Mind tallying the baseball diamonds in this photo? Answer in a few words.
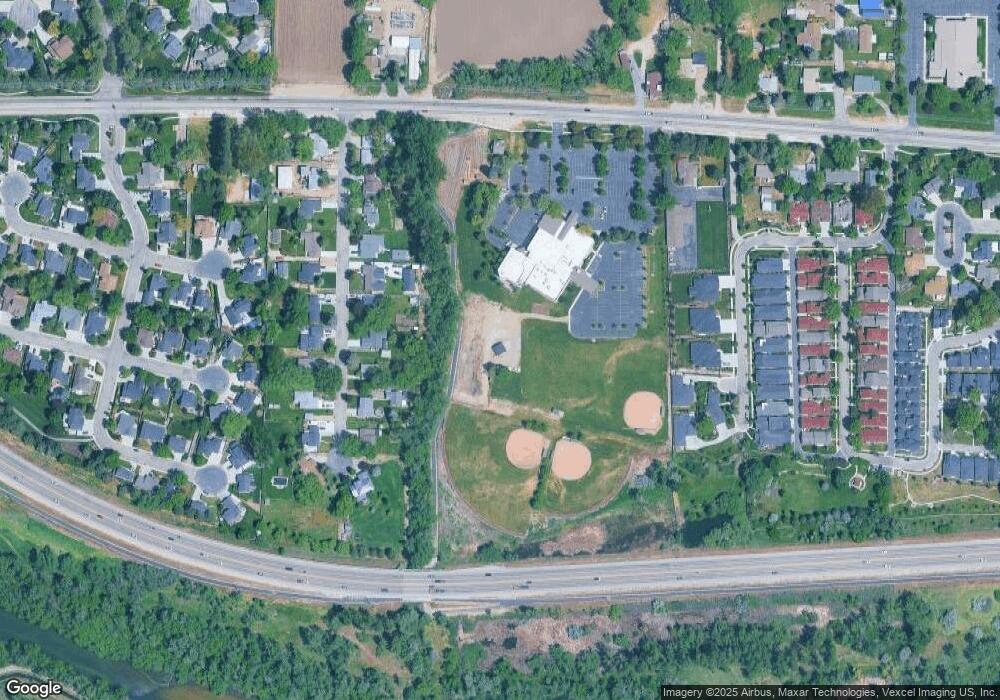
3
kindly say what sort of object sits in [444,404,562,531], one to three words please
baseball field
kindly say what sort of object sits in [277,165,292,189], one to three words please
barn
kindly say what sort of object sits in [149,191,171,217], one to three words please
house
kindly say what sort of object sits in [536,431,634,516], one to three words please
baseball field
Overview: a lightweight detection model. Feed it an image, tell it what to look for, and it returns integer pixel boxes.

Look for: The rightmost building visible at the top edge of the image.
[930,17,986,88]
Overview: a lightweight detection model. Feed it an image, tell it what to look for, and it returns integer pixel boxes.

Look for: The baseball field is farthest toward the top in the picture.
[581,350,665,438]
